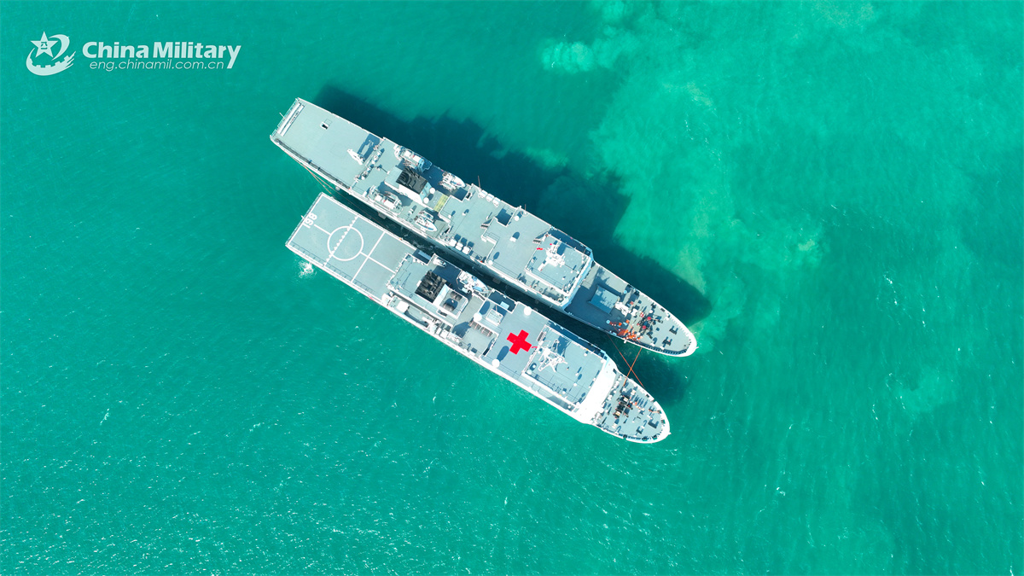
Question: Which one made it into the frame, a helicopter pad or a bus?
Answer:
helicopter pad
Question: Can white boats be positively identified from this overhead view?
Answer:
Yes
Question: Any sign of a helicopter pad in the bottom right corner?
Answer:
No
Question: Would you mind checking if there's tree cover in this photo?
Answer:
No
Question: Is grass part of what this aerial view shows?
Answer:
No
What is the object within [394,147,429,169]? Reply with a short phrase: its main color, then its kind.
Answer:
white boat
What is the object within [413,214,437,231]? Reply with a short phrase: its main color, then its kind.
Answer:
white boat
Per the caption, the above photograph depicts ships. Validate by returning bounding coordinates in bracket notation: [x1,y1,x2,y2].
[282,193,671,444]
[269,99,698,357]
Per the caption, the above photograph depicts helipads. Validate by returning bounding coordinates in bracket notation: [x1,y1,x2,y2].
[287,195,413,301]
